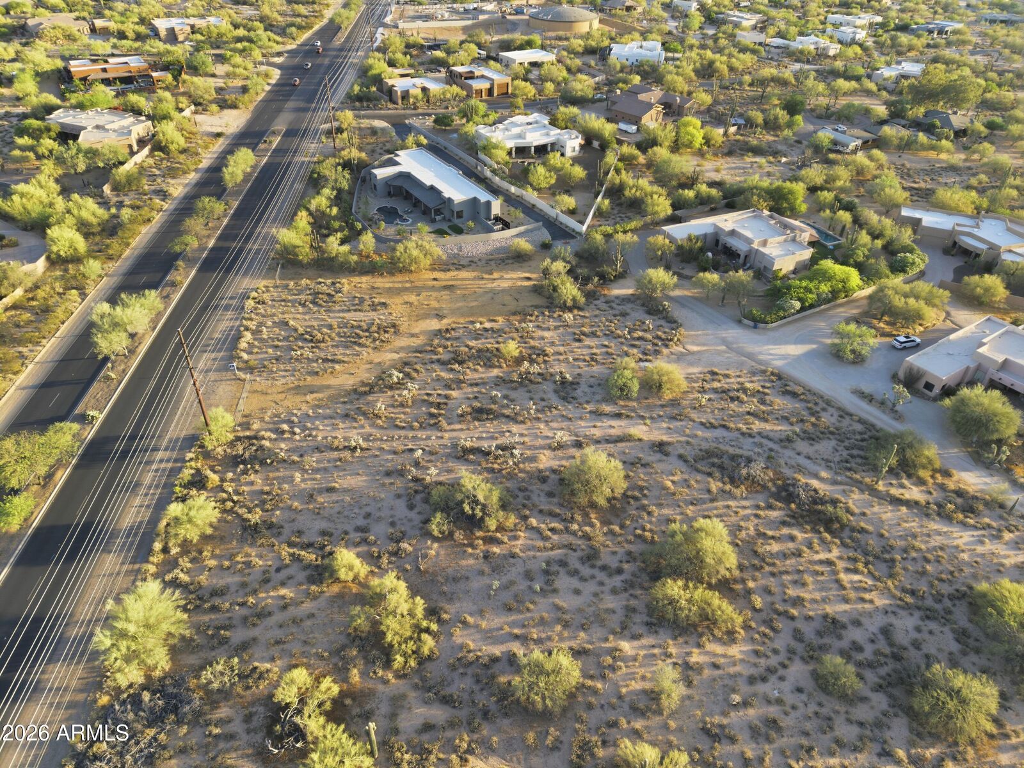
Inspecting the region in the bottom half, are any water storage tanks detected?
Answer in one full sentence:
No, no water storage tank is visible in the bottom half.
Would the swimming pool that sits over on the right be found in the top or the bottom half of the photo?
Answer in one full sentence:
You can find the swimming pool that sits over on the right in the top half.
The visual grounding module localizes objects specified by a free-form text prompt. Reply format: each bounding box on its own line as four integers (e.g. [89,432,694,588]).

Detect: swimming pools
[375,205,411,224]
[800,219,842,246]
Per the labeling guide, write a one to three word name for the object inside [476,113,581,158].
house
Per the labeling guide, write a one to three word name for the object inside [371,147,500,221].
house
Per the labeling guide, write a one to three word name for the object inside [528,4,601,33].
water tank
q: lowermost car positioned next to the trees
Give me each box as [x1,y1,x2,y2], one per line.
[892,333,923,348]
